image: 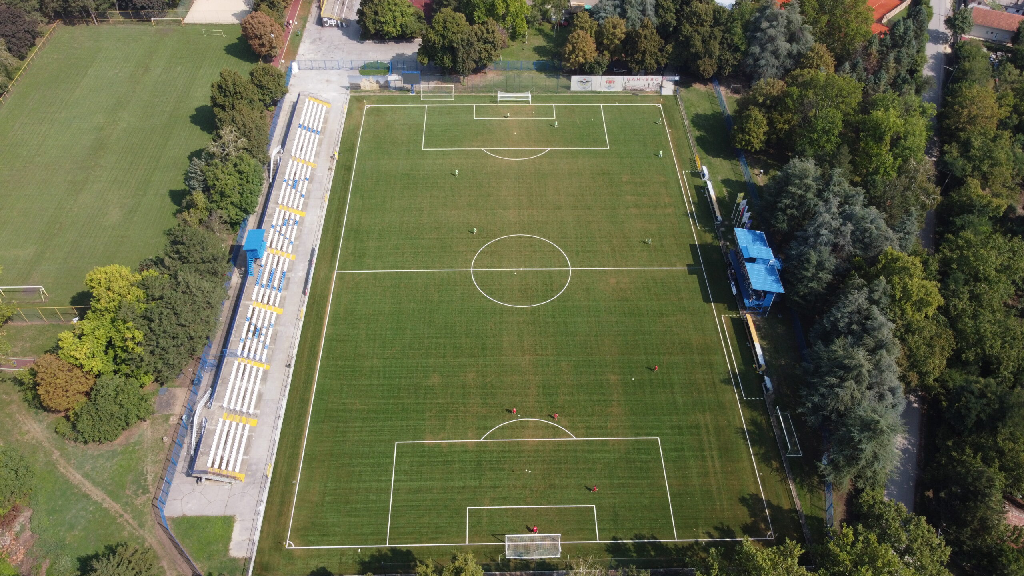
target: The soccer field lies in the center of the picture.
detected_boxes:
[250,94,813,575]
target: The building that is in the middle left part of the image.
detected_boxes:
[242,229,267,287]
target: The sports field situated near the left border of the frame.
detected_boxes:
[0,25,259,313]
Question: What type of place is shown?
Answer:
sports ground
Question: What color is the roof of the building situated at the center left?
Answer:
blue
